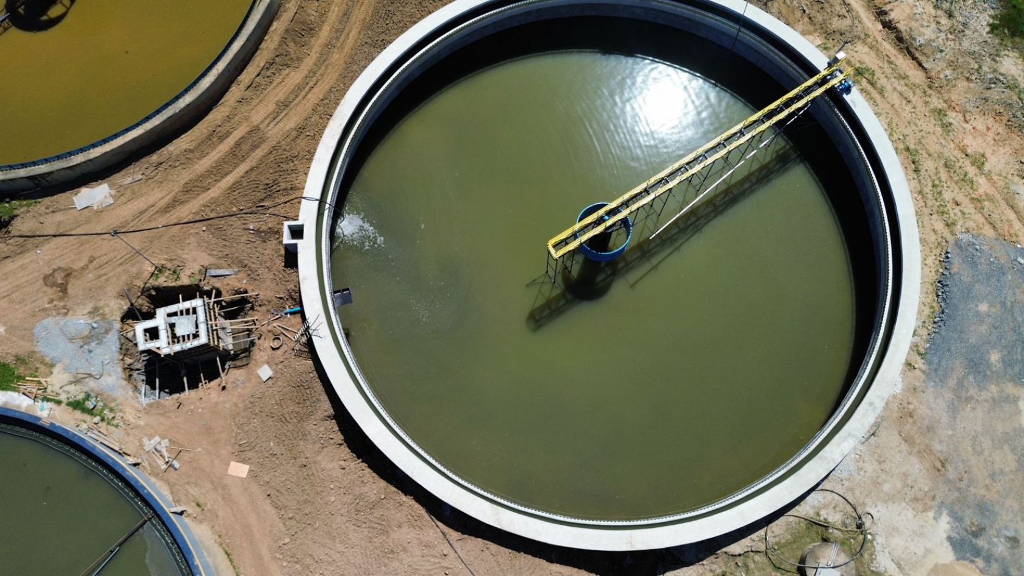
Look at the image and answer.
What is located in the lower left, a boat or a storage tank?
storage tank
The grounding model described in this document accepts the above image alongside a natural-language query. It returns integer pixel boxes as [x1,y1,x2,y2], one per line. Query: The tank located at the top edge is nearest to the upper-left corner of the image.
[0,0,280,194]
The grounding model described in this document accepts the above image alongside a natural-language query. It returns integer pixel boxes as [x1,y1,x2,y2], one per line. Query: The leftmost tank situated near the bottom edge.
[0,403,217,576]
